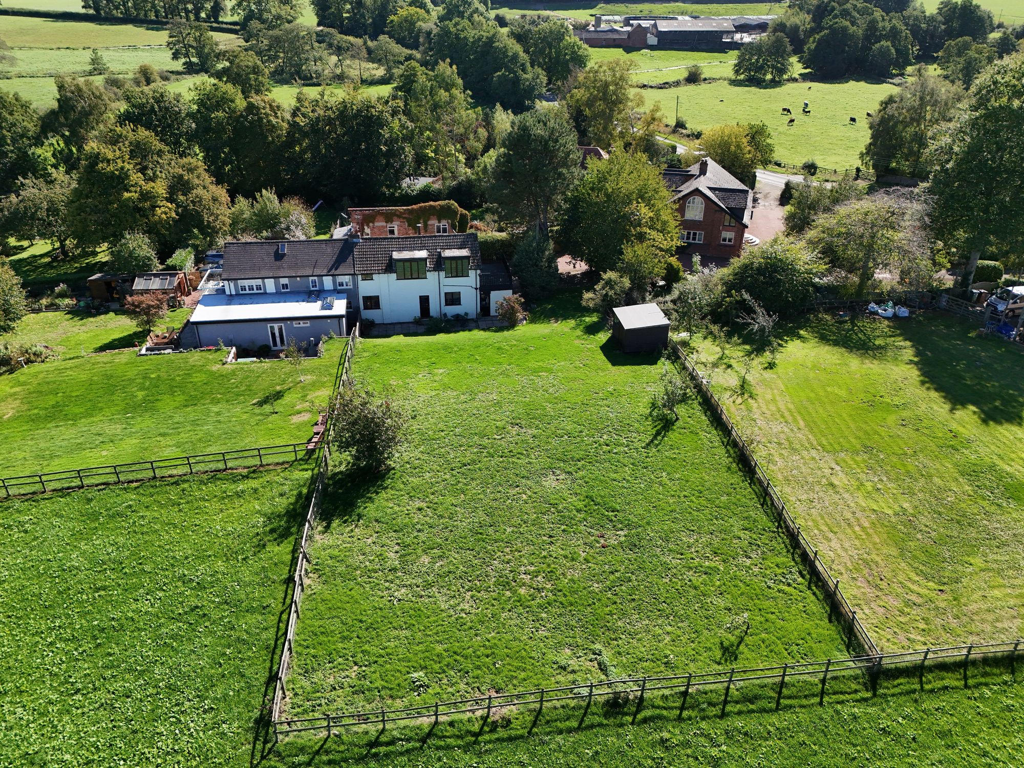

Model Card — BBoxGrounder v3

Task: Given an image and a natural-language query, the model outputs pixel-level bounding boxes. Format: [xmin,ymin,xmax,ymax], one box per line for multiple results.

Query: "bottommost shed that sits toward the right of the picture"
[612,302,673,352]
